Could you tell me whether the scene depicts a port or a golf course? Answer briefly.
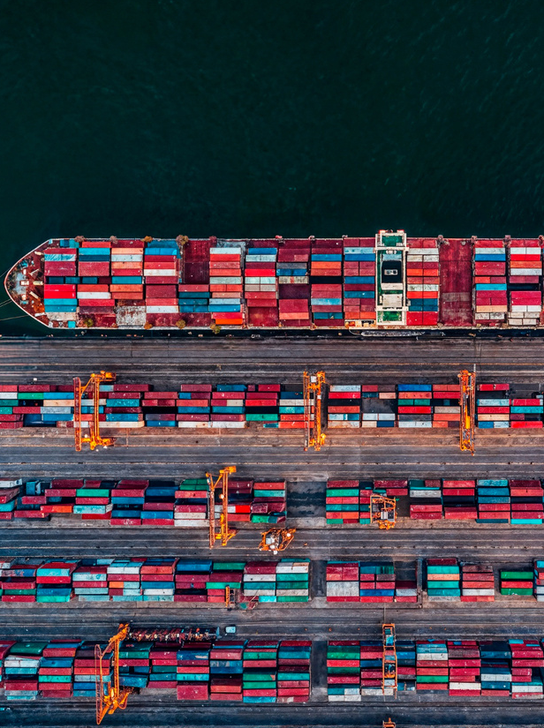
port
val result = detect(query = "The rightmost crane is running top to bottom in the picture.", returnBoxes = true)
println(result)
[452,374,478,452]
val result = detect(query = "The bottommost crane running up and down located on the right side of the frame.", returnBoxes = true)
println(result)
[381,624,404,701]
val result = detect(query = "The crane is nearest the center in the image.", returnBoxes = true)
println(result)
[303,374,333,449]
